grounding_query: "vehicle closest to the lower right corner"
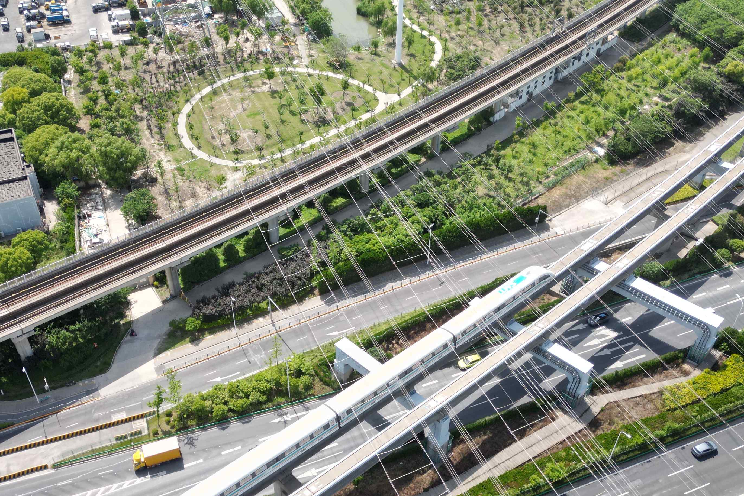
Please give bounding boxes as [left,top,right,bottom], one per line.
[691,441,718,458]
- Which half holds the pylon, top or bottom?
top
